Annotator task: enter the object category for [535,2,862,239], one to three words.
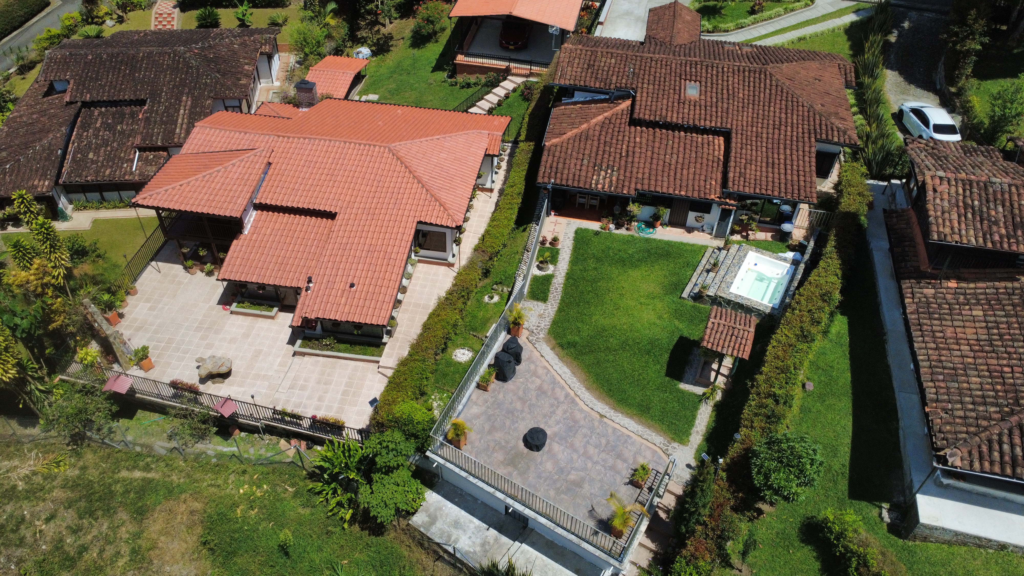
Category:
house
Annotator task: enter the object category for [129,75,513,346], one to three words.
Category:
house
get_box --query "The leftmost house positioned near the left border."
[0,26,281,215]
